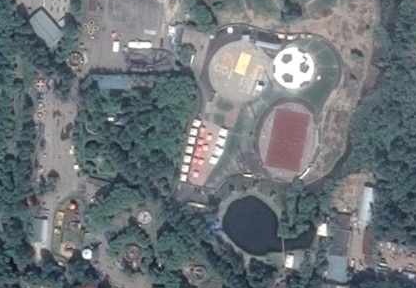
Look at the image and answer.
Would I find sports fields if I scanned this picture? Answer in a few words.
Yes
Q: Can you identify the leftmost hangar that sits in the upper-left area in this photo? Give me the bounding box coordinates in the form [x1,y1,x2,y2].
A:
[28,6,63,44]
